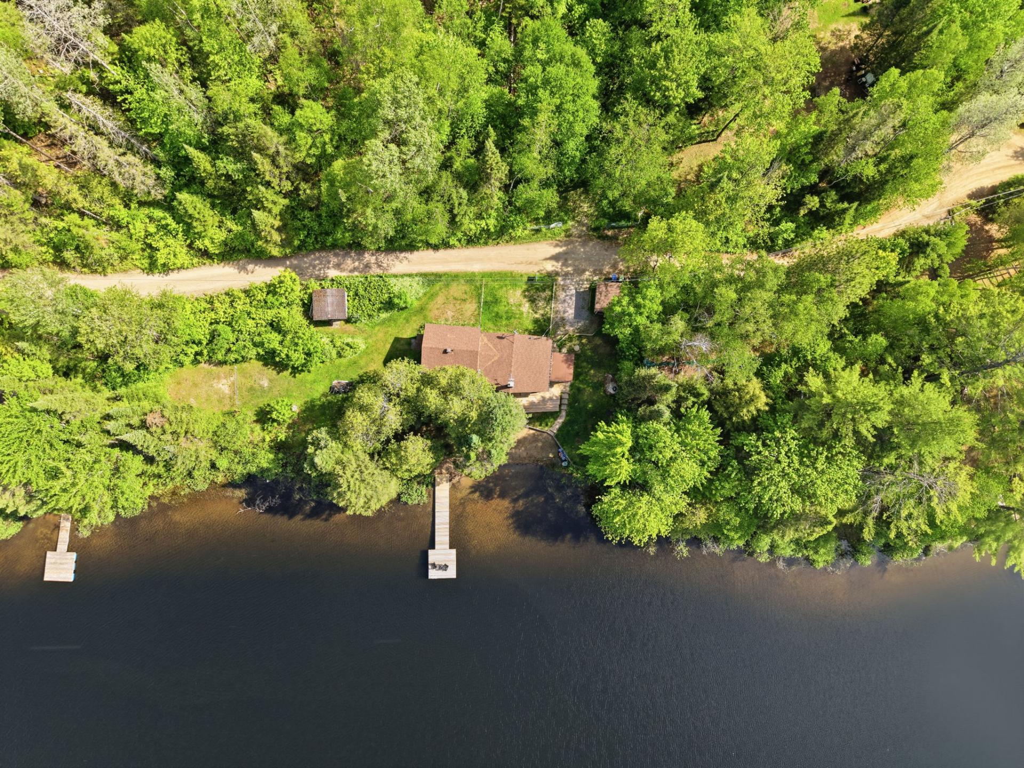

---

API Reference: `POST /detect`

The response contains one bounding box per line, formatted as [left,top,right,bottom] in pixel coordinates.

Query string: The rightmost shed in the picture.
[593,280,621,313]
